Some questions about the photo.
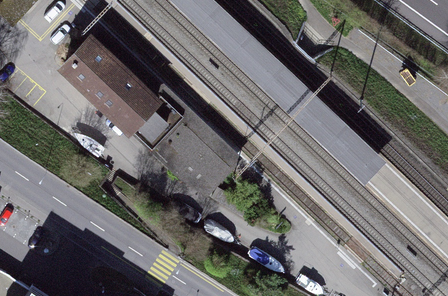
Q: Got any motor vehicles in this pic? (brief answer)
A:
Yes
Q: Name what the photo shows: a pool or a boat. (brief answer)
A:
boat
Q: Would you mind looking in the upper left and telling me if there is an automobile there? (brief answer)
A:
Yes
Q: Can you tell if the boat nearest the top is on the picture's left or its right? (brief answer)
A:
left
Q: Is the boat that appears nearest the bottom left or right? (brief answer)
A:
right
